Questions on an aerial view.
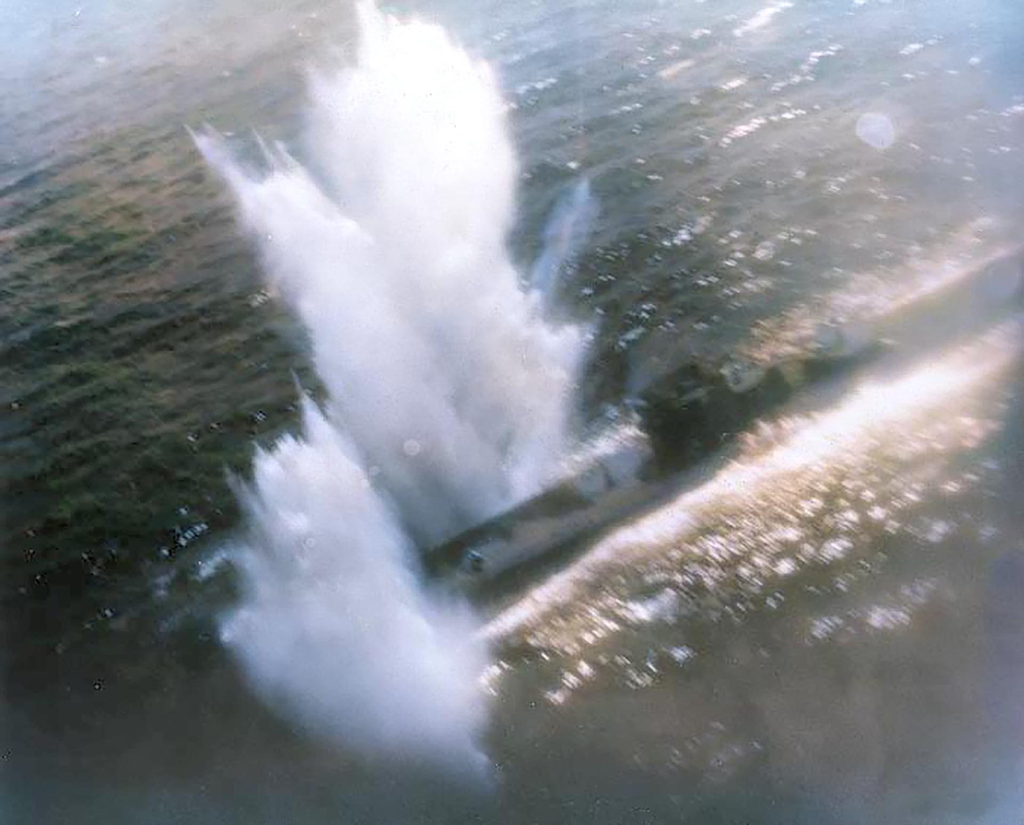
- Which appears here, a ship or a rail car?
ship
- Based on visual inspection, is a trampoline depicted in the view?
No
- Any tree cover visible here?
No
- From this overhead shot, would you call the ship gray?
Yes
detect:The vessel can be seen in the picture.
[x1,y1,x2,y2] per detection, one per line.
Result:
[402,340,904,591]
